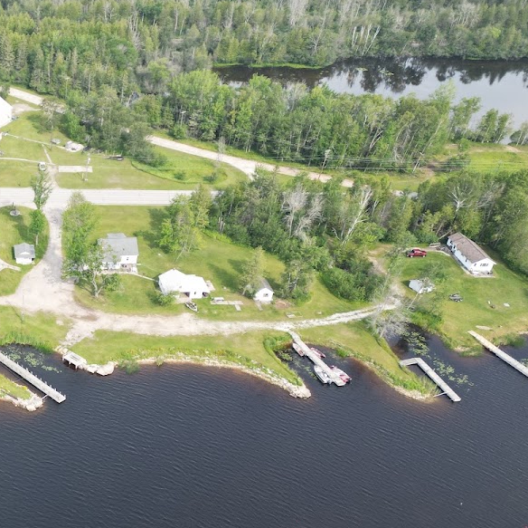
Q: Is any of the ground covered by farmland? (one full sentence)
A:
No, no farmland is visible.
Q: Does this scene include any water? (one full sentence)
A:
Yes, the picture does contain water.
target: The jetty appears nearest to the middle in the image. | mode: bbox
[292,337,347,387]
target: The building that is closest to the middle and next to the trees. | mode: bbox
[245,272,277,303]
